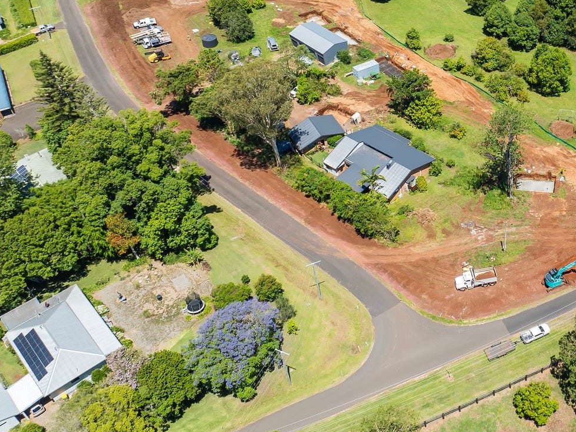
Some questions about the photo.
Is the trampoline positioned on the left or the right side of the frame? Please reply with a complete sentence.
The trampoline sits on the left side.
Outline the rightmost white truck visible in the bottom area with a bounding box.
[521,321,553,343]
